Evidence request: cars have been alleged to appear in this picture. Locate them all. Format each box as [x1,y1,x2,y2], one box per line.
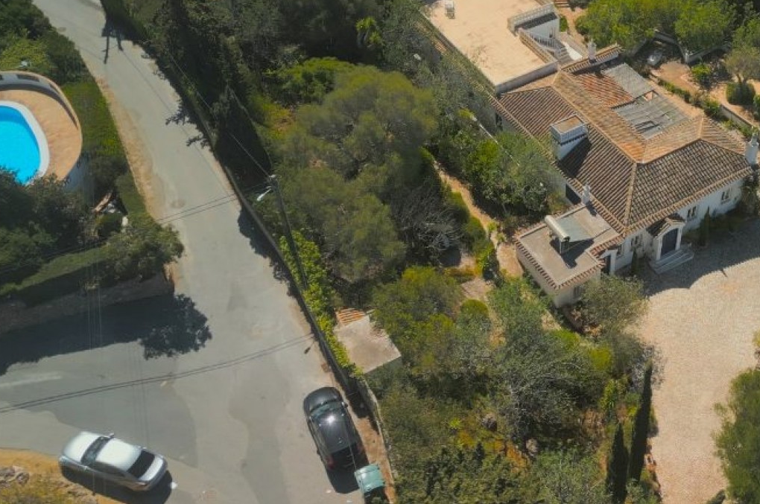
[69,435,166,498]
[306,390,364,477]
